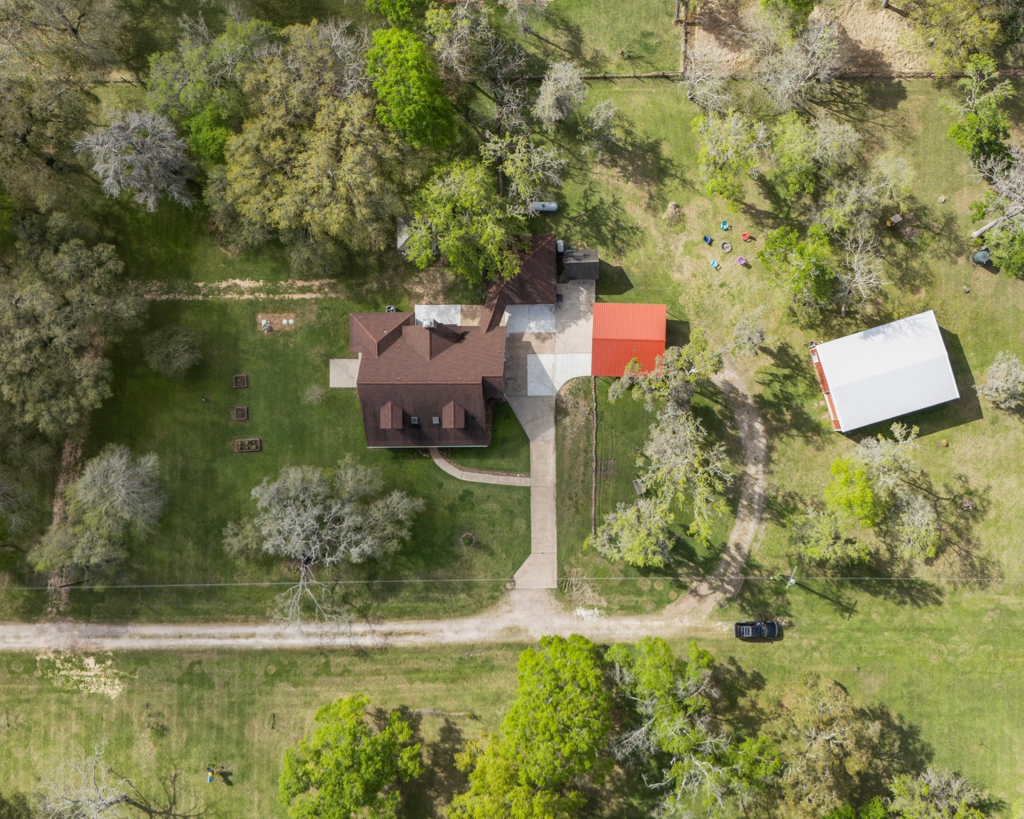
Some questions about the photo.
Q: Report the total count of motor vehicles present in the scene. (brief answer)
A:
1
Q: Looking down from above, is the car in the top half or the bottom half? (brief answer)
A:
bottom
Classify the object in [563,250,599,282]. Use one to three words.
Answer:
shed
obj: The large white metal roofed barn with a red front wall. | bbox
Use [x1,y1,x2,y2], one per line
[809,310,959,431]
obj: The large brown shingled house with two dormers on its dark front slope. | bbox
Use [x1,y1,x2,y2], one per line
[350,234,556,448]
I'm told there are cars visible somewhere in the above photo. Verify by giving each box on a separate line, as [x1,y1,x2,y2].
[733,613,778,640]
